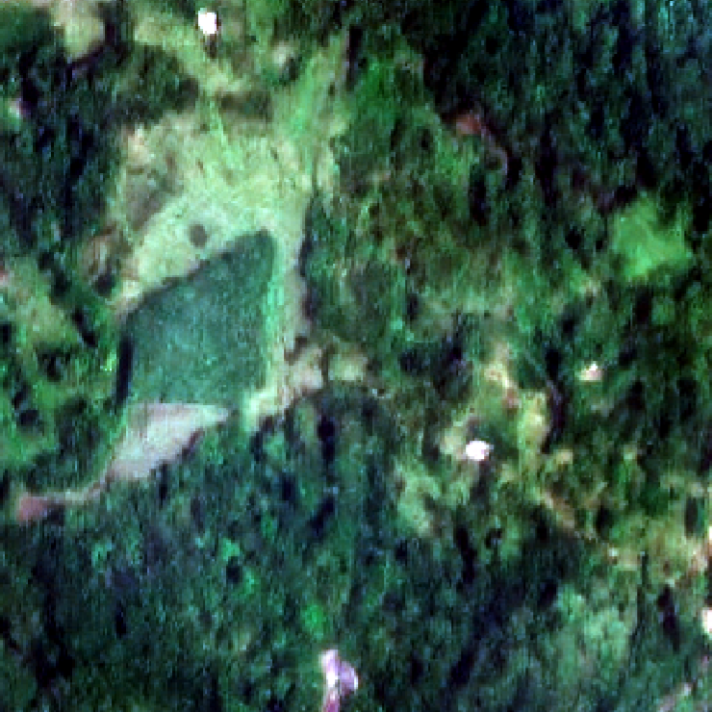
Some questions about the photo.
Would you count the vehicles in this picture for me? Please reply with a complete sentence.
The picture shows no vehicles.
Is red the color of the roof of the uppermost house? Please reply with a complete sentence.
No, the color of the roof of the uppermost house is white.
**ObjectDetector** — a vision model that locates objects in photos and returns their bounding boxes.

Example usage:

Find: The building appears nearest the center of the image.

[464,440,487,460]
